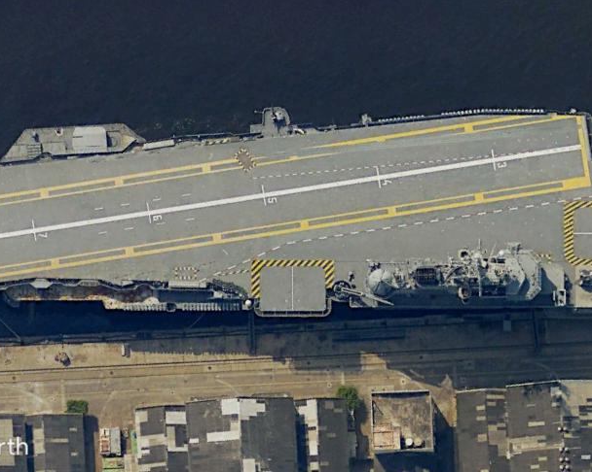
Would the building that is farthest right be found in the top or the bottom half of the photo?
bottom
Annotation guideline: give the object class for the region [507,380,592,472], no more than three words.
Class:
building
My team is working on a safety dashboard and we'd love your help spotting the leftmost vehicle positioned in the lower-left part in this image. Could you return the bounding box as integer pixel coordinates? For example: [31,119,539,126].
[54,352,69,365]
